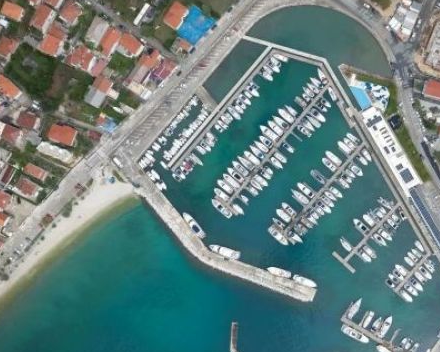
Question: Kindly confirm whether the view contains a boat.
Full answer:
Yes, there's a boat here.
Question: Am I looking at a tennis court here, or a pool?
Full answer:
Visible in the photo is a pool.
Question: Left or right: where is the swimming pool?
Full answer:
The swimming pool appears in the right half of the scene.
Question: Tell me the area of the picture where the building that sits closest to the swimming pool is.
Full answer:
You can find the building that sits closest to the swimming pool in the right area of the picture.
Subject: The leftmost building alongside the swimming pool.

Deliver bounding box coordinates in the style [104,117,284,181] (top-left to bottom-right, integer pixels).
[361,108,424,197]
